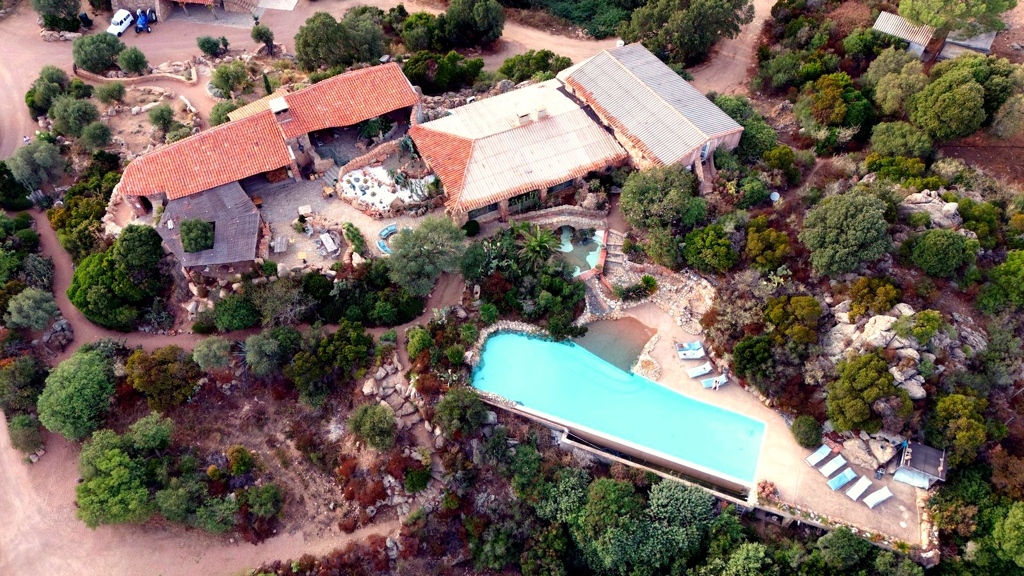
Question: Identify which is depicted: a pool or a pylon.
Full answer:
I can see a pool in this picture.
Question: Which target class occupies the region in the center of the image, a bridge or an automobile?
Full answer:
Looking in the center of the image, you will find a bridge.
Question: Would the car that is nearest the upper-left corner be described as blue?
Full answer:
No, the car that is nearest the upper-left corner is actually white.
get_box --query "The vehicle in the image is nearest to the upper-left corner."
[106,3,133,31]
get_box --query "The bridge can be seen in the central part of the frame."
[497,209,611,253]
